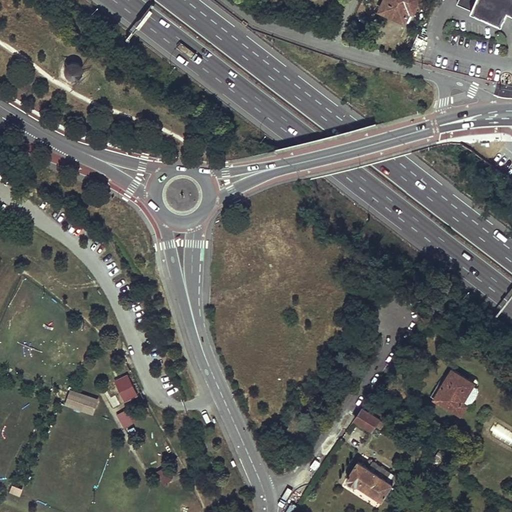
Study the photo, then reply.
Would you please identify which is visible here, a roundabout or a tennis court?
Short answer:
roundabout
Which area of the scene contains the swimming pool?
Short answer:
bottom right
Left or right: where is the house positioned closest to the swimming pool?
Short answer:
right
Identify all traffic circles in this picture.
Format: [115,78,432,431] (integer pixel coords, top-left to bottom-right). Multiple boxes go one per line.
[109,158,262,244]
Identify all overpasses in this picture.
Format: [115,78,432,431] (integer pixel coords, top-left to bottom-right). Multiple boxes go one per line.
[262,114,426,191]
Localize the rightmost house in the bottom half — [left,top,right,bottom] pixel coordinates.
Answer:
[432,370,477,417]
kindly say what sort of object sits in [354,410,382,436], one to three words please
house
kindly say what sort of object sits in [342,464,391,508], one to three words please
house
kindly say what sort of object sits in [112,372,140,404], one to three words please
building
